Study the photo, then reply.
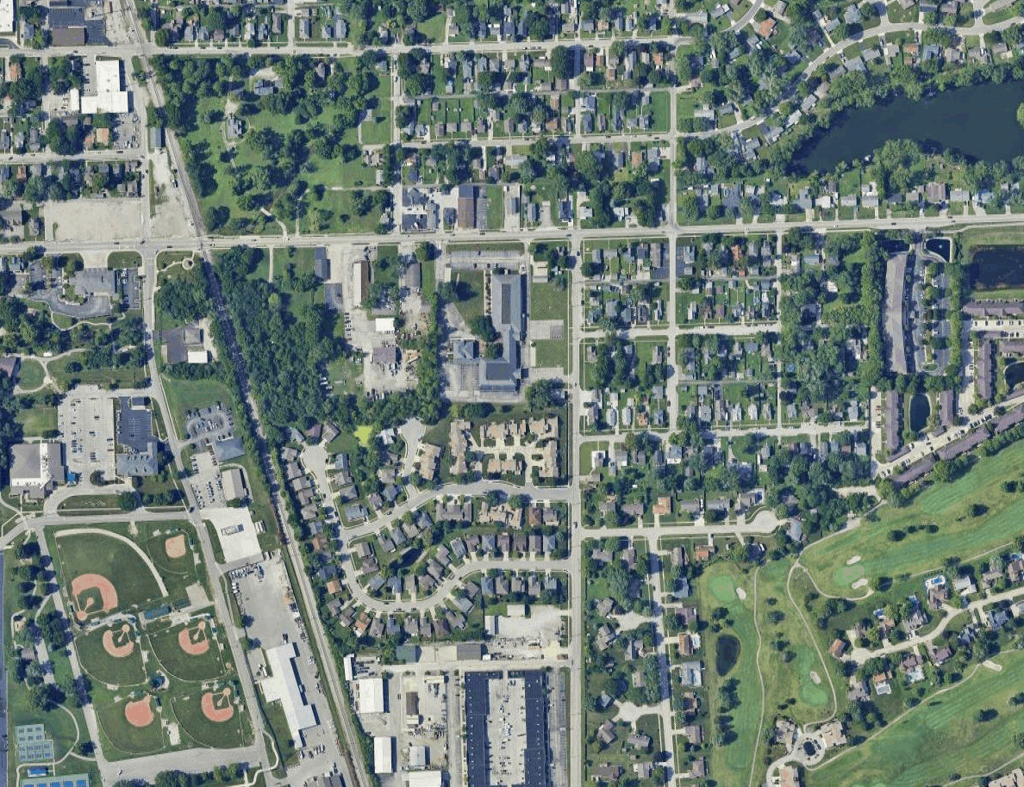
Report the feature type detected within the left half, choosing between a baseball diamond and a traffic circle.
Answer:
baseball diamond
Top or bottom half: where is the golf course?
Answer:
bottom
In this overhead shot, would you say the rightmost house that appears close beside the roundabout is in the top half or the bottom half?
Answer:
bottom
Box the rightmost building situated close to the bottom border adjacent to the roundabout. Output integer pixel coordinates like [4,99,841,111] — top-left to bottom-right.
[819,718,850,749]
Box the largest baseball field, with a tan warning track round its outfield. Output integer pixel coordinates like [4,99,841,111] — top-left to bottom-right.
[55,529,168,630]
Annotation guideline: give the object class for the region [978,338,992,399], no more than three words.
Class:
building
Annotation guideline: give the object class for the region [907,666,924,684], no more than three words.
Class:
swimming pool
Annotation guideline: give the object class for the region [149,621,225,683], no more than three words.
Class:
baseball field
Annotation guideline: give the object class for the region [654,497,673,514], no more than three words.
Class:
house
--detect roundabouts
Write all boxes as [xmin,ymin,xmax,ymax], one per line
[790,731,827,769]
